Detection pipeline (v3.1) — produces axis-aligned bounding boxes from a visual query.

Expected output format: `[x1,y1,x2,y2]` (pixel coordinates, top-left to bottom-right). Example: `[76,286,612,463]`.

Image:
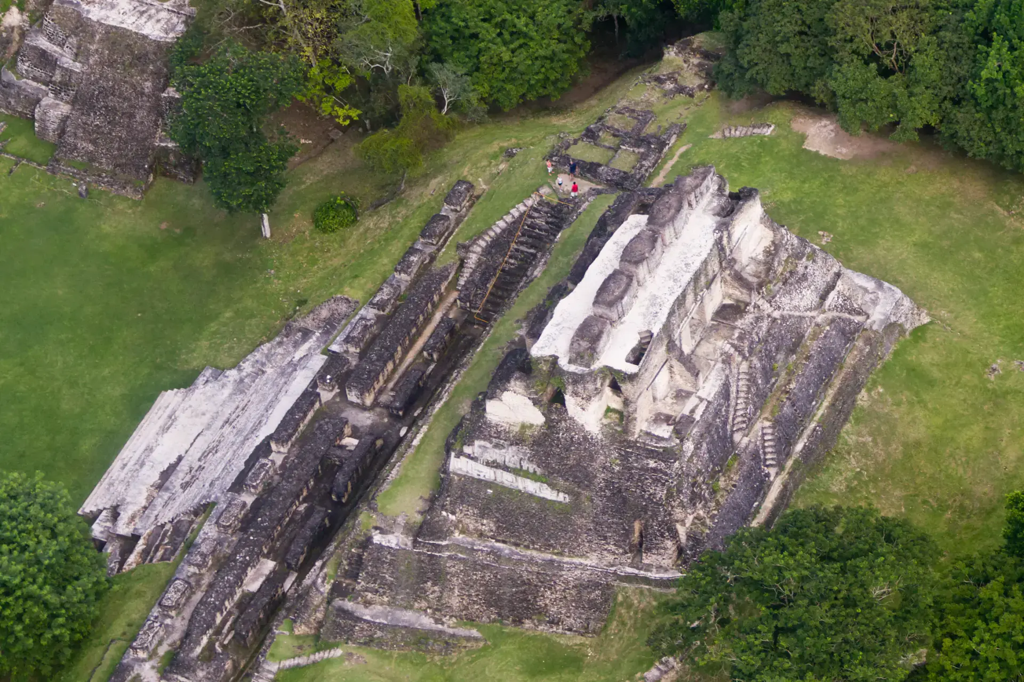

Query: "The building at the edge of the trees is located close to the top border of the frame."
[0,0,199,205]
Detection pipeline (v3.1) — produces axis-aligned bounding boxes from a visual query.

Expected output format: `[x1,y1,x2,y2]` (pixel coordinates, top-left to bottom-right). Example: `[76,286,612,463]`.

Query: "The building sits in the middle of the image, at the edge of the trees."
[302,173,930,654]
